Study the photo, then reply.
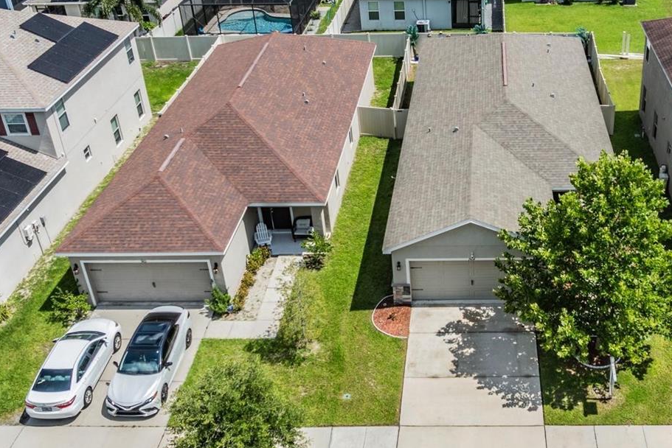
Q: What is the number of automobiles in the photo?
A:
two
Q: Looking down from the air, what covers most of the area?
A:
buildings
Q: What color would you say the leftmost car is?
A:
white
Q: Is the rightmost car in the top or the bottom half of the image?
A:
bottom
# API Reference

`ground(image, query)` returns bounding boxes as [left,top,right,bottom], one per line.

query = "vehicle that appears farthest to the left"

[18,319,116,418]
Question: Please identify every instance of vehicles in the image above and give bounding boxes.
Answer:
[18,319,116,418]
[99,311,184,418]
